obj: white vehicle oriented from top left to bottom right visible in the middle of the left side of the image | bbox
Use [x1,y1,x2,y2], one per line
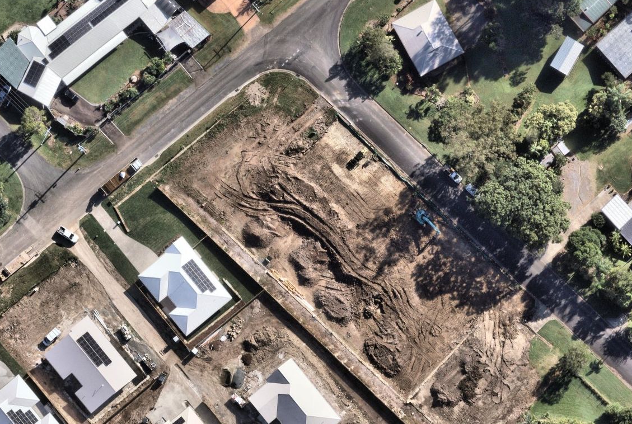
[54,222,81,248]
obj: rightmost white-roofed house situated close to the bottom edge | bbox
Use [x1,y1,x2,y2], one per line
[248,358,341,424]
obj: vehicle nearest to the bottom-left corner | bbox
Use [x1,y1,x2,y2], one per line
[38,324,65,349]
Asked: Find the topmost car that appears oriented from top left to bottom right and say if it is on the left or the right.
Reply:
left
